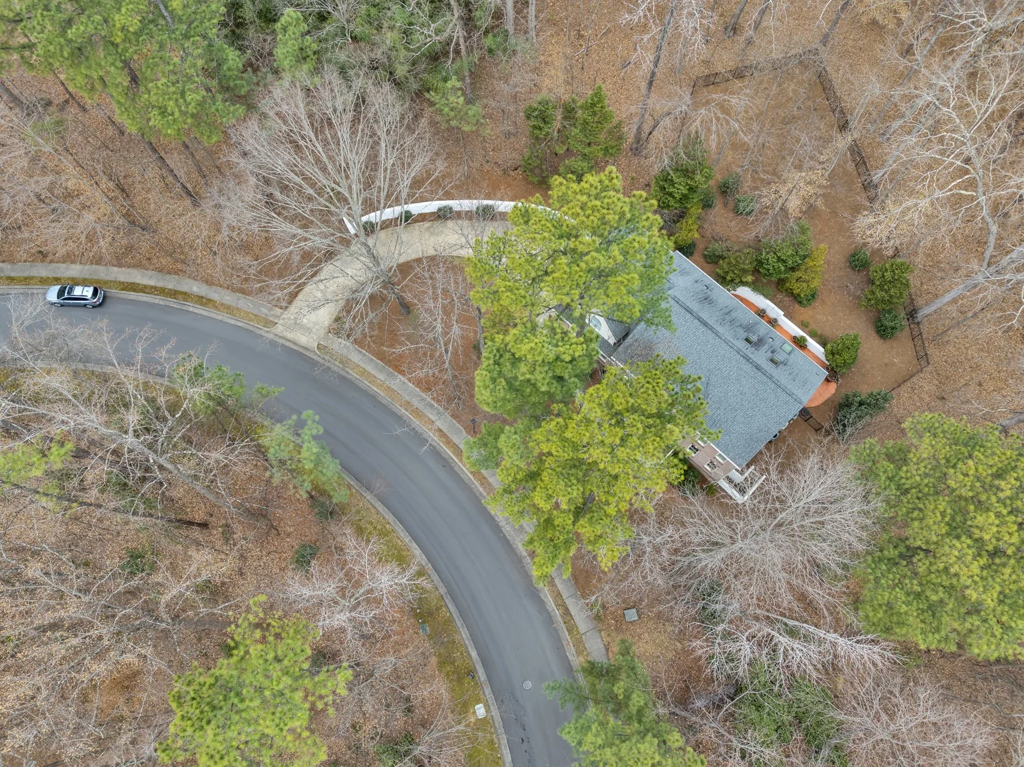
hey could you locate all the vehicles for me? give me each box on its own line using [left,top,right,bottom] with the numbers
[44,281,107,311]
